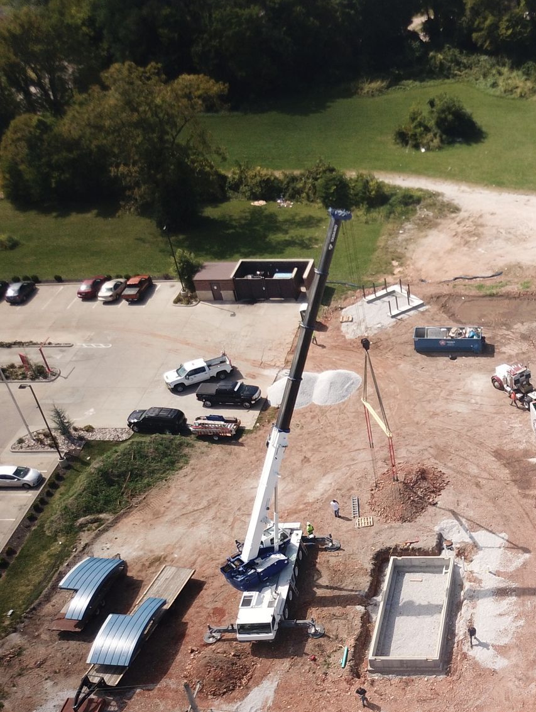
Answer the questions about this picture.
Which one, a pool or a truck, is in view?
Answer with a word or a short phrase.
truck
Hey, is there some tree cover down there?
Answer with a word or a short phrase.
Yes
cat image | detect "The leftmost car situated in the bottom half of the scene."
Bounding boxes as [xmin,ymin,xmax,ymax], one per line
[0,460,39,487]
